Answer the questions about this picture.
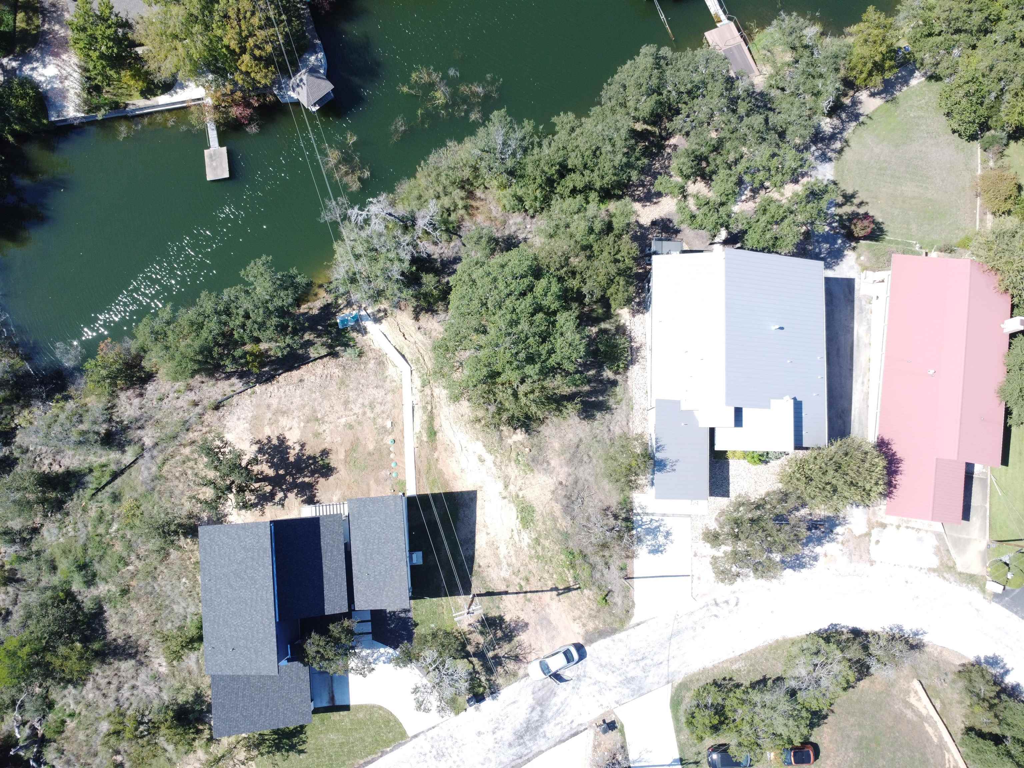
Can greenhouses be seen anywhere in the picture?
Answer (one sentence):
No, the picture doesn't show any greenhouse.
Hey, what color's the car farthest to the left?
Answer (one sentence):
The car farthest to the left is white.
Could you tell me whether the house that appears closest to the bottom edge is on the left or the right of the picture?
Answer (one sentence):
You can find the house that appears closest to the bottom edge on the left side of the picture.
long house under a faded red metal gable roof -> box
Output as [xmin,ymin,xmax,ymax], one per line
[865,254,1024,525]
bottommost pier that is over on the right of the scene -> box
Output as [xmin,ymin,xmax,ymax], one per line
[702,17,761,84]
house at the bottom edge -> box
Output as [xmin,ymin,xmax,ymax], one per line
[198,495,411,738]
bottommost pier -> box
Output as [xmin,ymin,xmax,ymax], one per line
[204,146,232,183]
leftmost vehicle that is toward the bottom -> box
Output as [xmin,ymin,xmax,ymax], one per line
[526,644,583,690]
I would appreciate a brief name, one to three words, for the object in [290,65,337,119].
gazebo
